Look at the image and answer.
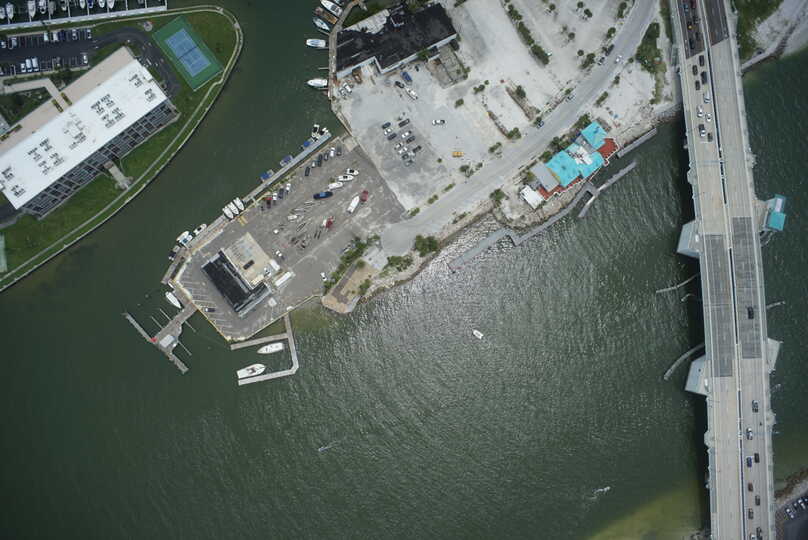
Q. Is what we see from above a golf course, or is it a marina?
marina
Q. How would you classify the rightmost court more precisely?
tennis court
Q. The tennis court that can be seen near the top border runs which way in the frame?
on a diagonal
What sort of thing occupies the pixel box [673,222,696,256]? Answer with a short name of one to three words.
pier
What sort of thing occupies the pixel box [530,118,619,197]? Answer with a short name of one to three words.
building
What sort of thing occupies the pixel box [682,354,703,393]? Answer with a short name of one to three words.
pier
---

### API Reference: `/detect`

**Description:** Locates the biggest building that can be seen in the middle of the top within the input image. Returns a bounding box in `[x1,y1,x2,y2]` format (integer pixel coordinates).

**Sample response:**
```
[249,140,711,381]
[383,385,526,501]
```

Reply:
[335,4,457,77]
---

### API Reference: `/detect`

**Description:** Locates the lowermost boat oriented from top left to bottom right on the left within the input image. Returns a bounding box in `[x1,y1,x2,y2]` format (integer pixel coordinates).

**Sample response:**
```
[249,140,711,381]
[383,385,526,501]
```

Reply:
[164,291,181,307]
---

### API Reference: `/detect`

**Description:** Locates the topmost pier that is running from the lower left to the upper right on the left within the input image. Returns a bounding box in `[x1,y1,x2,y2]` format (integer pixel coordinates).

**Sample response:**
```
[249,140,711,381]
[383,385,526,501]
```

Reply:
[240,133,331,206]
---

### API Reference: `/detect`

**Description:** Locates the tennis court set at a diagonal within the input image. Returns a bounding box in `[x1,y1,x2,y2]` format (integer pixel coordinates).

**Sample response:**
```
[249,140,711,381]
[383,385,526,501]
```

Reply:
[150,13,223,90]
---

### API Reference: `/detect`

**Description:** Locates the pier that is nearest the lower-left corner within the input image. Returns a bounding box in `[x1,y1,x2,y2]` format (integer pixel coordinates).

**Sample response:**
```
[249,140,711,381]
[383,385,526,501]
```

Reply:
[123,300,198,373]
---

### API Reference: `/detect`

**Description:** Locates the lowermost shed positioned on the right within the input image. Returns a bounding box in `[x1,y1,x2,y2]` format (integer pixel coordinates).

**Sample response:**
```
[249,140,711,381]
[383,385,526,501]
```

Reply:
[518,186,544,210]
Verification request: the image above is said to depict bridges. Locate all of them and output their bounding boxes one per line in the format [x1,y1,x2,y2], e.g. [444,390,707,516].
[670,0,787,540]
